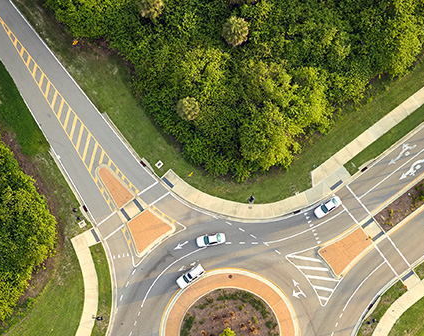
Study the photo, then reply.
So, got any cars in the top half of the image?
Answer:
No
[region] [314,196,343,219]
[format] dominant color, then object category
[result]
white car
